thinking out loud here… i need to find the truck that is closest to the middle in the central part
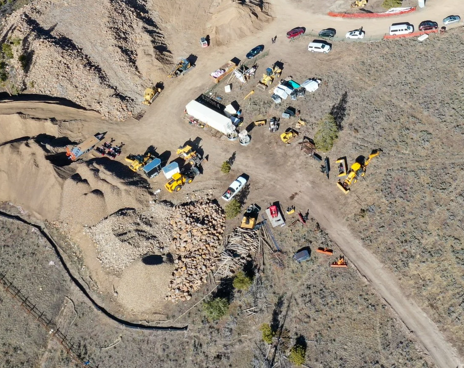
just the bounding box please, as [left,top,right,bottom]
[222,174,248,197]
